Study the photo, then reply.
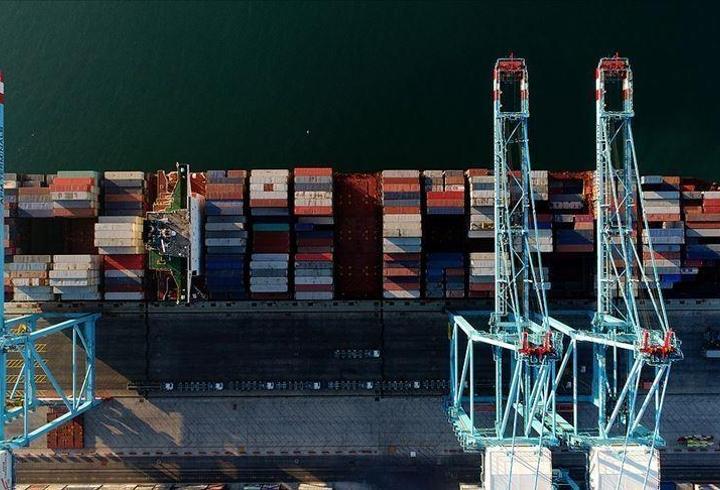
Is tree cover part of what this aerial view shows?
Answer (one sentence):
No, the scene doesn't show any tree cover.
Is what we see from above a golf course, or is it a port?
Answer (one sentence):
It's a port.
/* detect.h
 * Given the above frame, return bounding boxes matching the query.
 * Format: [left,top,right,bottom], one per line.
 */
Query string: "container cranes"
[0,60,104,490]
[527,51,691,490]
[439,51,568,490]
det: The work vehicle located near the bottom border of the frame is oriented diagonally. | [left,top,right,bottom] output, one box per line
[557,459,588,490]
